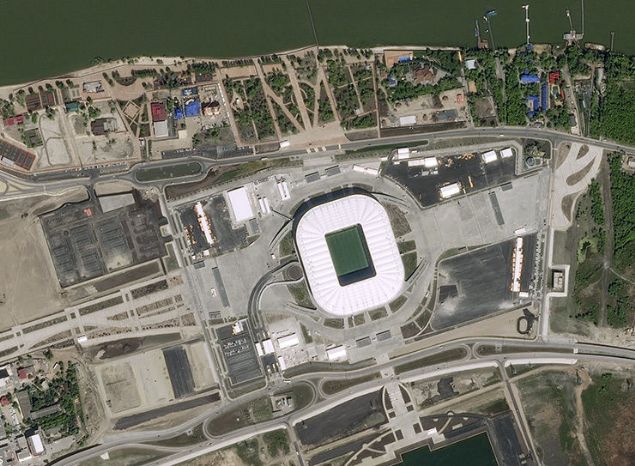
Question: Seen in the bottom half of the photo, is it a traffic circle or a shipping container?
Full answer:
What appears in the bottom half of the photo is a traffic circle.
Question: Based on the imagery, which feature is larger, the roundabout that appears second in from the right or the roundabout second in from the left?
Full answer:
The roundabout second in from the left covers a greater area than the roundabout that appears second in from the right.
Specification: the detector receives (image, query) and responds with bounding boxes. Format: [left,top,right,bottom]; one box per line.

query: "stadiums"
[299,195,406,316]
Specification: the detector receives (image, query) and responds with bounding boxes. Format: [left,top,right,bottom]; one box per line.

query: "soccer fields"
[329,226,373,285]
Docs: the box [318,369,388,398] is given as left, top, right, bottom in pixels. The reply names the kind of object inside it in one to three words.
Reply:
roundabout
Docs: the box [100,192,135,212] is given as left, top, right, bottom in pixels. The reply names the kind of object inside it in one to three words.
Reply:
building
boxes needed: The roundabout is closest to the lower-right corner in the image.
[471,344,580,359]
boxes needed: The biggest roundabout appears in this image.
[203,379,316,440]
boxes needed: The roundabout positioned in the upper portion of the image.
[130,156,206,187]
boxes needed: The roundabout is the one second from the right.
[392,344,469,375]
